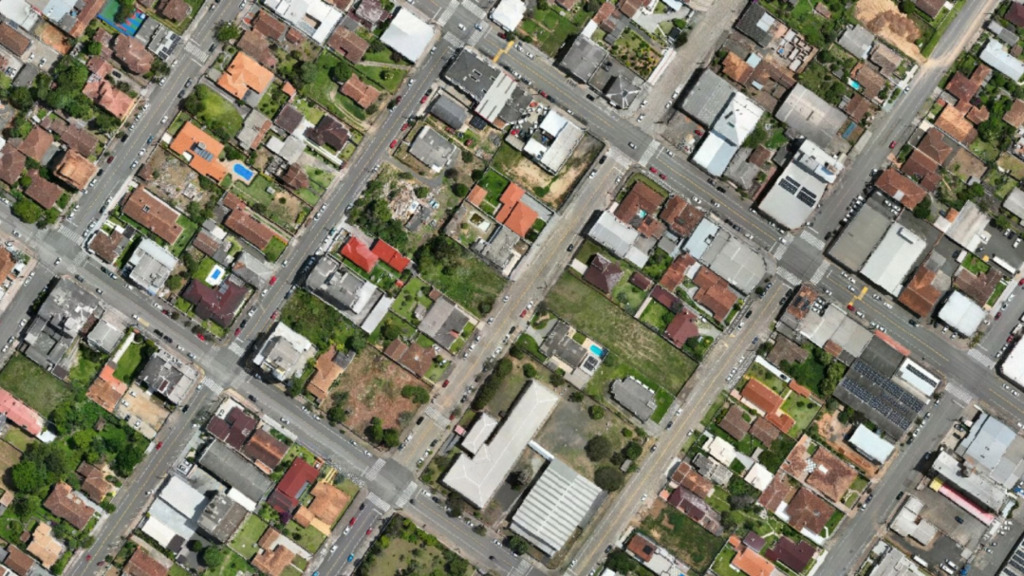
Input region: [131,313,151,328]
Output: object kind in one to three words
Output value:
vehicle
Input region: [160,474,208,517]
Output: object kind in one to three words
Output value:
building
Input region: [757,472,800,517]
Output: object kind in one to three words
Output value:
house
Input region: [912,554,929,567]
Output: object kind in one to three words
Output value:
vehicle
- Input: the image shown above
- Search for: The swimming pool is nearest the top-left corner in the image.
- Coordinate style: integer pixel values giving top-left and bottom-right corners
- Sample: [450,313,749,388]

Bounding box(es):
[233,163,253,181]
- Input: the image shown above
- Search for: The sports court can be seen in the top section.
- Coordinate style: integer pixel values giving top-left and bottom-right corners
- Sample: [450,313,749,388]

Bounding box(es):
[97,0,147,37]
